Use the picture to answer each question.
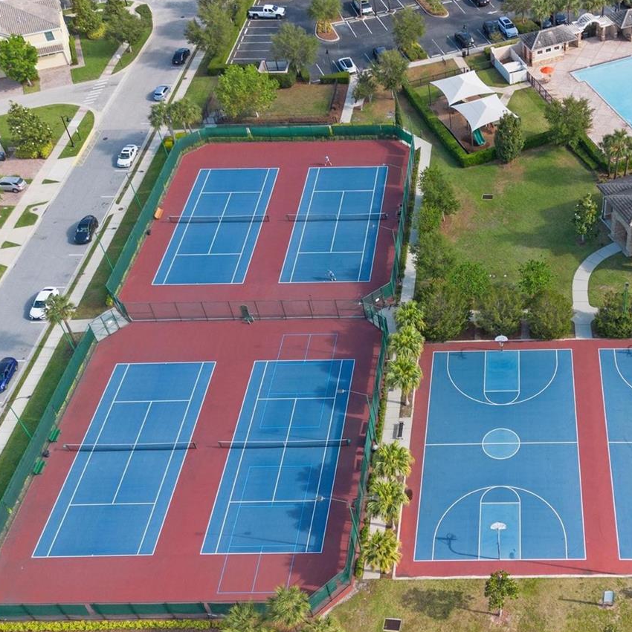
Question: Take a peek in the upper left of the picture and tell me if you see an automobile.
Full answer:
Yes, the scene does show an automobile in the upper left of the picture.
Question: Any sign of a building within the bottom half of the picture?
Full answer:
No, there's no building to be seen within the bottom half of the picture.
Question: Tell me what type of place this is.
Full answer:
This image shows a sports ground.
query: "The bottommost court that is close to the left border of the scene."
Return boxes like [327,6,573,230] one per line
[0,321,247,617]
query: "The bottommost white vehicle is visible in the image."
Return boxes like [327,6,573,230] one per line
[27,283,57,317]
